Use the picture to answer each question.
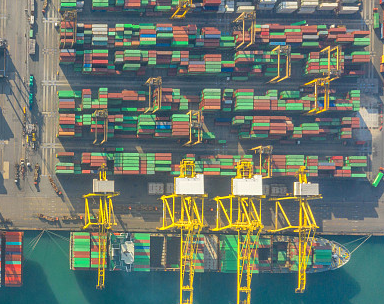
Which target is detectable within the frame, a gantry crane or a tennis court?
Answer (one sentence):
I can see a gantry crane in this picture.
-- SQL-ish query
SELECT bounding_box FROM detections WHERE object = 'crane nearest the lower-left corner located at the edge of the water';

[76,164,116,290]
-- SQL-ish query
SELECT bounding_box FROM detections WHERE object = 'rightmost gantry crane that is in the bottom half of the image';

[263,171,322,294]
